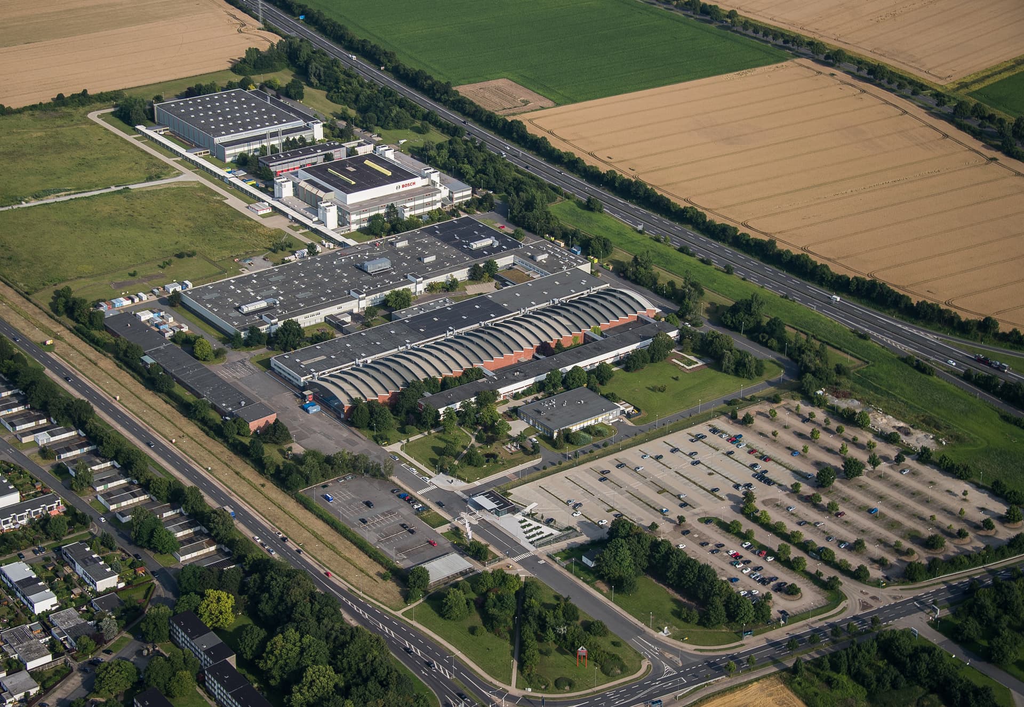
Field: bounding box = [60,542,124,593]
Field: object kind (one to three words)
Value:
house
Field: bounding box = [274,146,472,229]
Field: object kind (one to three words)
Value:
building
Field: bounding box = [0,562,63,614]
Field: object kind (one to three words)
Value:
house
